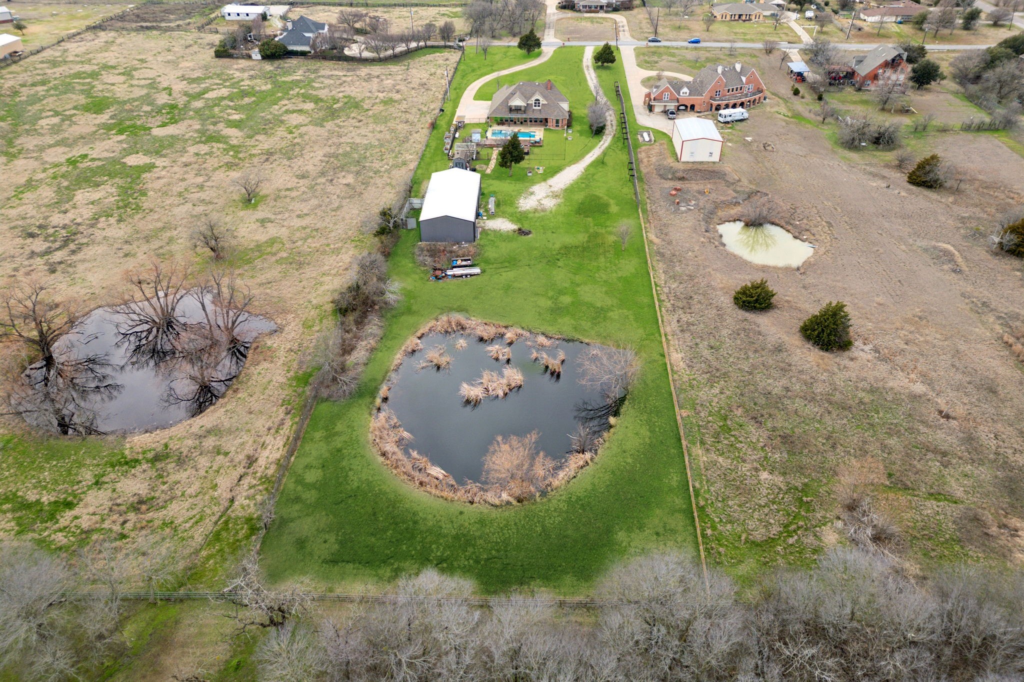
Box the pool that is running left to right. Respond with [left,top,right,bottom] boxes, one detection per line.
[486,126,544,140]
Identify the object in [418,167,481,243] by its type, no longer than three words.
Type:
barn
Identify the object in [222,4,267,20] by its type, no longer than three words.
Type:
barn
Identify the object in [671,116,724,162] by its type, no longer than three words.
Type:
building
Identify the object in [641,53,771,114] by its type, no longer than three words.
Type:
house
